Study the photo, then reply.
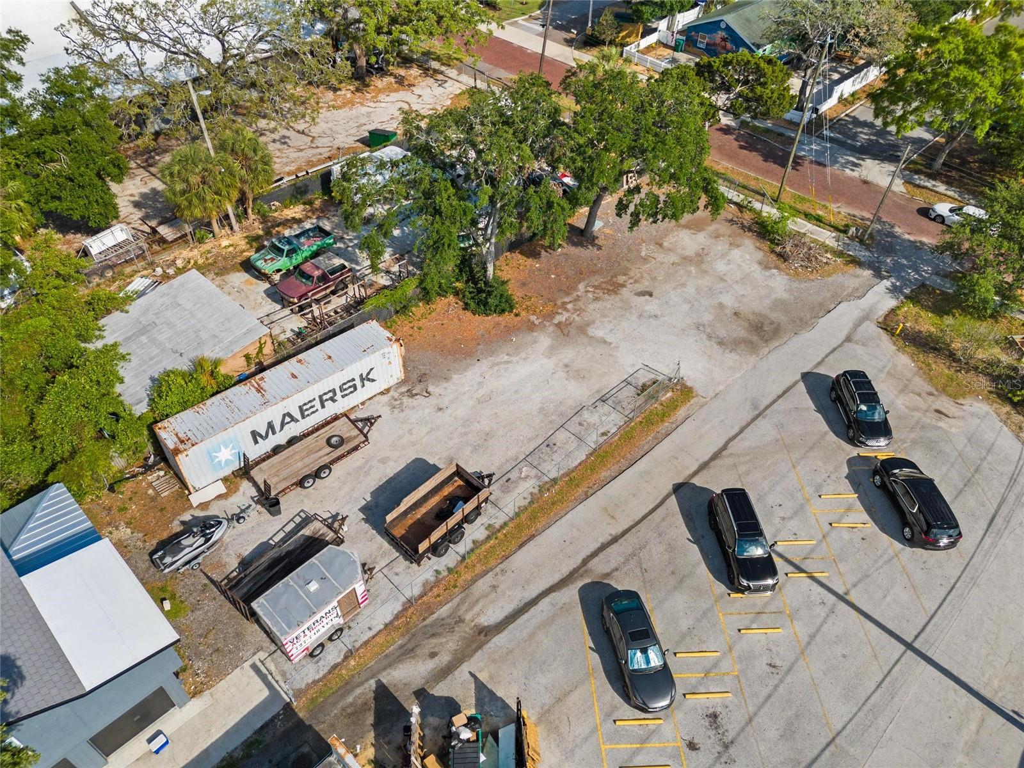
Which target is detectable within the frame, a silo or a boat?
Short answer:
boat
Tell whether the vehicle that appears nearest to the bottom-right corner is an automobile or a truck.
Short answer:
automobile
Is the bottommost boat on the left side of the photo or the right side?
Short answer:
left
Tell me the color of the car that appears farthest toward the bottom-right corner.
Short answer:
black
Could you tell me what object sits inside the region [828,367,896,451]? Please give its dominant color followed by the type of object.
black car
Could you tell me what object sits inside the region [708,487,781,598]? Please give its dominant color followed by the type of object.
black car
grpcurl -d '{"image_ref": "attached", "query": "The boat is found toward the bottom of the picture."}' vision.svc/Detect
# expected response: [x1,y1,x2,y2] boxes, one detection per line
[156,519,229,578]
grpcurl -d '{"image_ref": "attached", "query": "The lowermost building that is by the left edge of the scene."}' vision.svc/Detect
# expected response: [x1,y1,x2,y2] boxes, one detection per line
[0,483,200,768]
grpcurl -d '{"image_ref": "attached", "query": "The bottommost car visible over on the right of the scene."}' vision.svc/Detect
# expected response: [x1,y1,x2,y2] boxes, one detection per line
[600,587,679,716]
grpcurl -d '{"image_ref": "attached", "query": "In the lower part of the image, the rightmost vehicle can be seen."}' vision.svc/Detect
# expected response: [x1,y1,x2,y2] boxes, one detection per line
[871,456,964,553]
